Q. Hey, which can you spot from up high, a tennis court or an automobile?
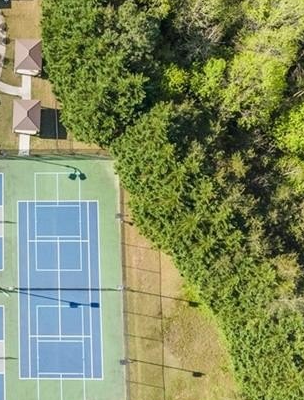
tennis court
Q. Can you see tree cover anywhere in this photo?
Yes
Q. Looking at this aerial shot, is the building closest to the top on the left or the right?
left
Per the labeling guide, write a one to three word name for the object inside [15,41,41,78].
building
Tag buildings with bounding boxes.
[13,100,40,134]
[15,41,41,78]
